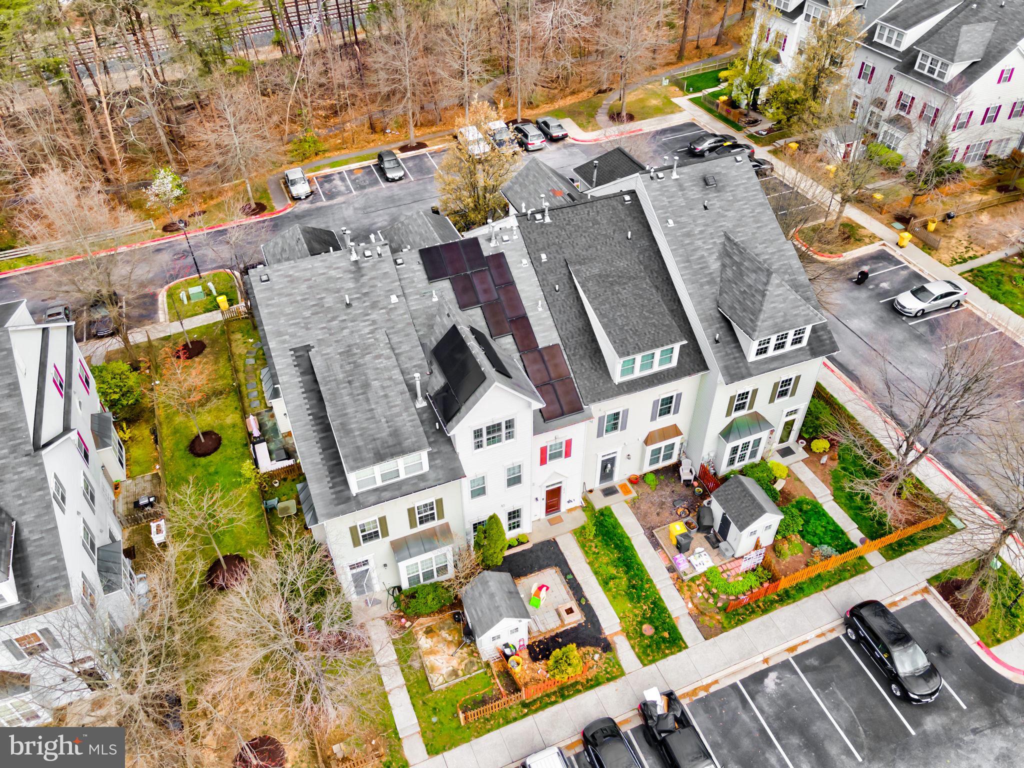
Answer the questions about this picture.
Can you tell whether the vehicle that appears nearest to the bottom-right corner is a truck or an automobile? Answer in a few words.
automobile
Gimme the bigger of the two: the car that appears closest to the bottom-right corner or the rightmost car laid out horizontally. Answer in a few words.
the car that appears closest to the bottom-right corner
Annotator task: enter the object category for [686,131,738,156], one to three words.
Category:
car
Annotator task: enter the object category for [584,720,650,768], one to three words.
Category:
car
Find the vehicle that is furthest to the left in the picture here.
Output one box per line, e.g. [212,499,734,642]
[42,292,81,324]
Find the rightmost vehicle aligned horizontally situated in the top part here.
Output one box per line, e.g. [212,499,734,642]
[893,280,966,319]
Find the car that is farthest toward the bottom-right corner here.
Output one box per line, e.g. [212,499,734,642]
[851,601,966,724]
